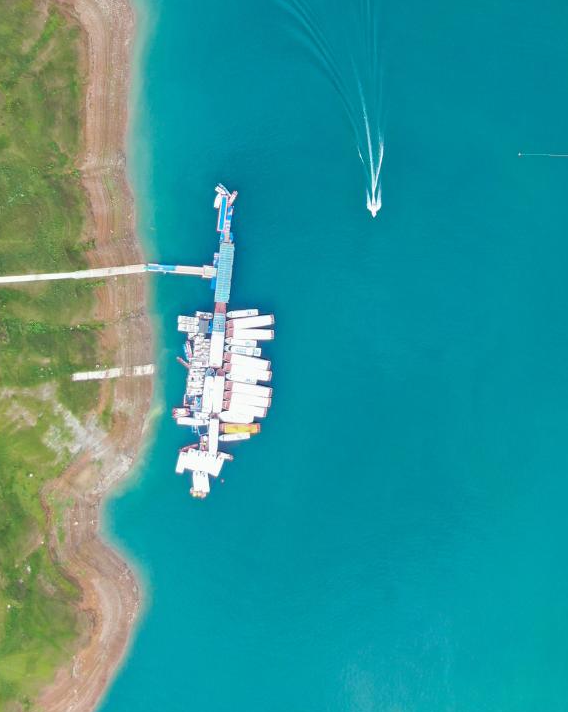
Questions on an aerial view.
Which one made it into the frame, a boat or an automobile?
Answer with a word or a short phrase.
boat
